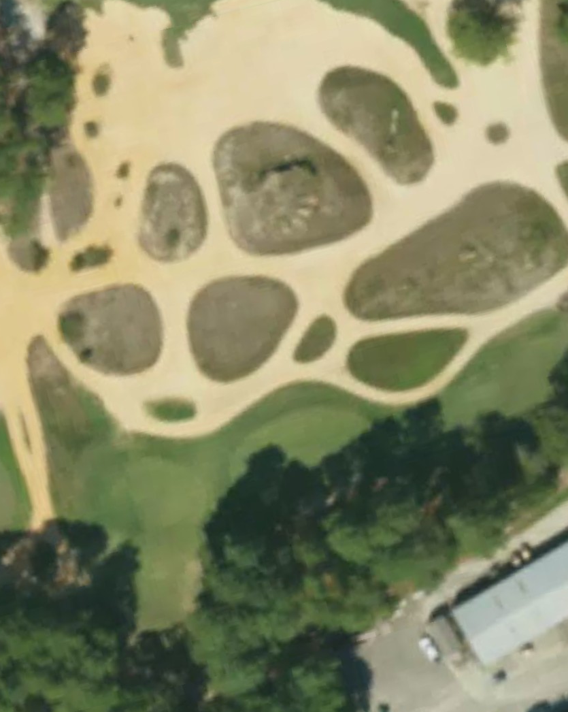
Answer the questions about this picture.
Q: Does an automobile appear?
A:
Yes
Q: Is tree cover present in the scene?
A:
Yes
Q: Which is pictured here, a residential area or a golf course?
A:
golf course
